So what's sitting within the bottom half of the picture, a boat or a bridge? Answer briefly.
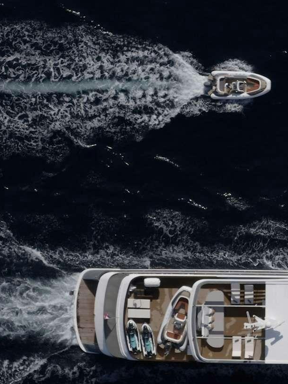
boat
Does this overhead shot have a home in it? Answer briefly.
No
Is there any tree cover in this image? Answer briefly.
No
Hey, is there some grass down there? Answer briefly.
No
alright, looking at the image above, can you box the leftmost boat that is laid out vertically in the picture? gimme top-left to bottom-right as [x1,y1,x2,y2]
[127,320,141,354]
